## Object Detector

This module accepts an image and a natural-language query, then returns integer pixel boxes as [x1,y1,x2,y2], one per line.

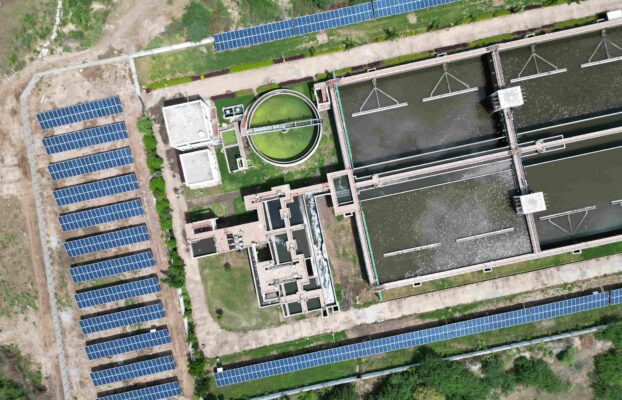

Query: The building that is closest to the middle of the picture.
[180,149,220,186]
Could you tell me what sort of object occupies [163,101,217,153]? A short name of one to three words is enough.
building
